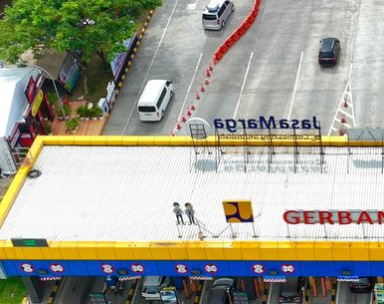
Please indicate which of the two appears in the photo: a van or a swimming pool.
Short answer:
van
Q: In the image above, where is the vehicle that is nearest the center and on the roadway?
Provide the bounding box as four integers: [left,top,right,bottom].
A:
[138,72,173,117]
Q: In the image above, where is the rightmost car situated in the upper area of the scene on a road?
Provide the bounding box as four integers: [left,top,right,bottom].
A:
[319,30,344,63]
